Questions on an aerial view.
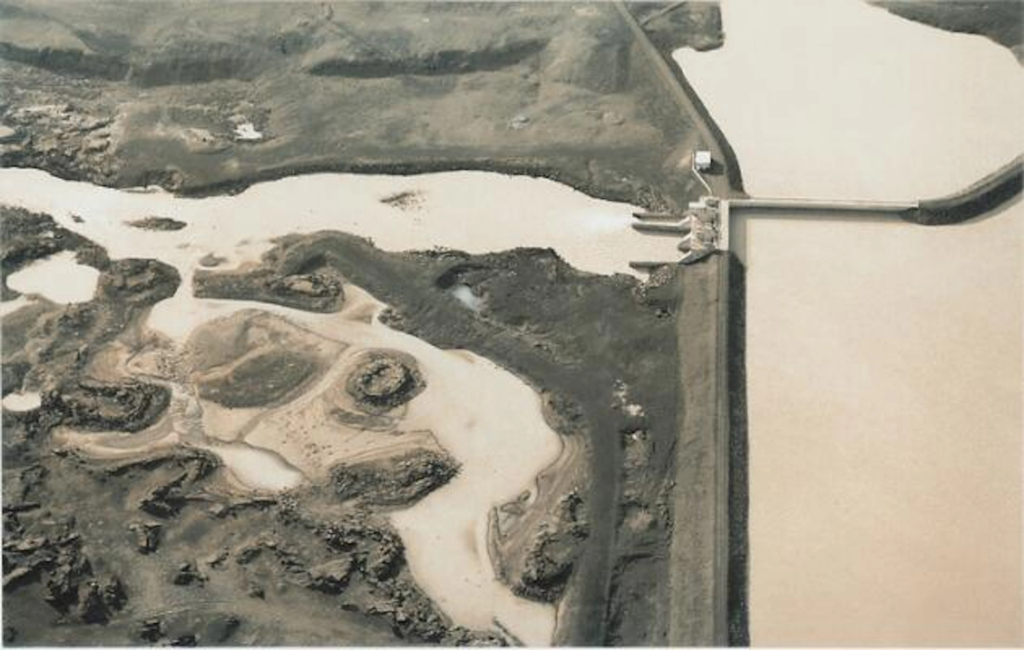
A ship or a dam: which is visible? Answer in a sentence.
Looking from above, you can make out a dam.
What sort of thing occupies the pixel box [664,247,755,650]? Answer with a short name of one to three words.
dam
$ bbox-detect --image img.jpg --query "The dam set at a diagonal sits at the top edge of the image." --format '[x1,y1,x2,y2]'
[609,0,752,212]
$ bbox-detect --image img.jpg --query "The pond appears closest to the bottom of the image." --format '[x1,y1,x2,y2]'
[208,444,303,490]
